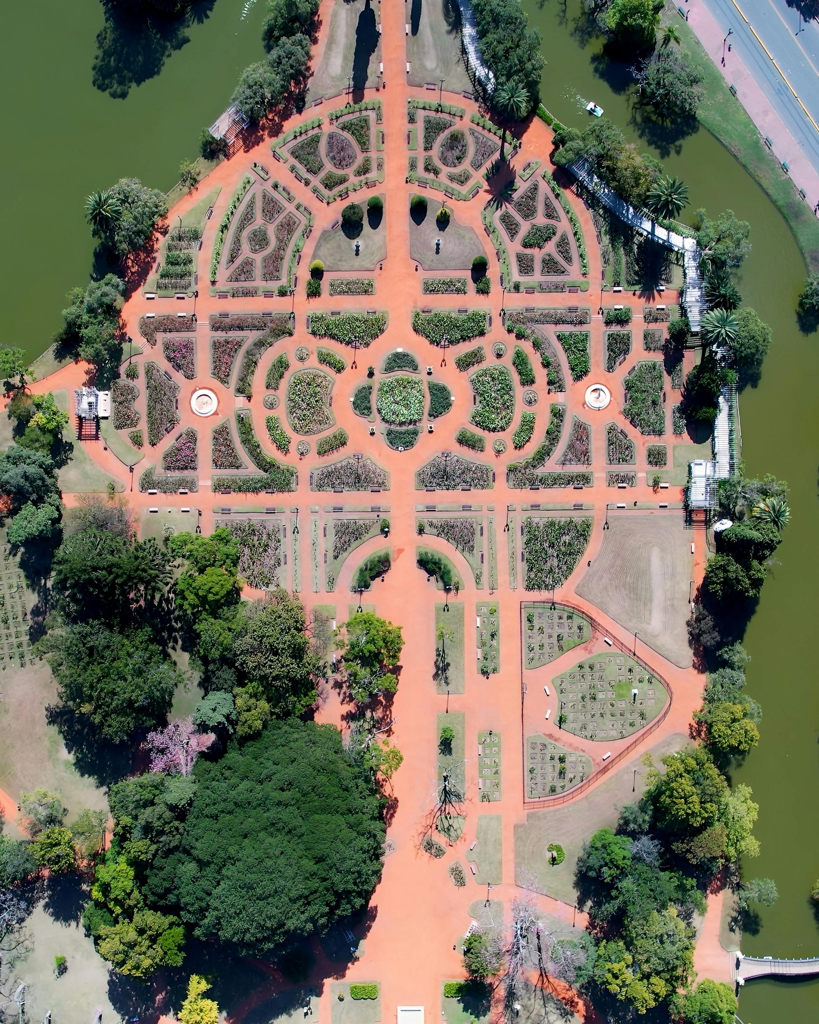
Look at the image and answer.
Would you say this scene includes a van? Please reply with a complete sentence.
No, the frame has no van in it.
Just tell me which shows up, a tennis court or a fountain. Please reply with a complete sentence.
Visible in the photo is a fountain.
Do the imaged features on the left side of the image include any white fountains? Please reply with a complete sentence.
Yes, the scene does show a white fountain on the left side of the image.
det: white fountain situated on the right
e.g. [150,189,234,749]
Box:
[584,383,612,410]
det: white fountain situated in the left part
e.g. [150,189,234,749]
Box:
[190,389,218,416]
